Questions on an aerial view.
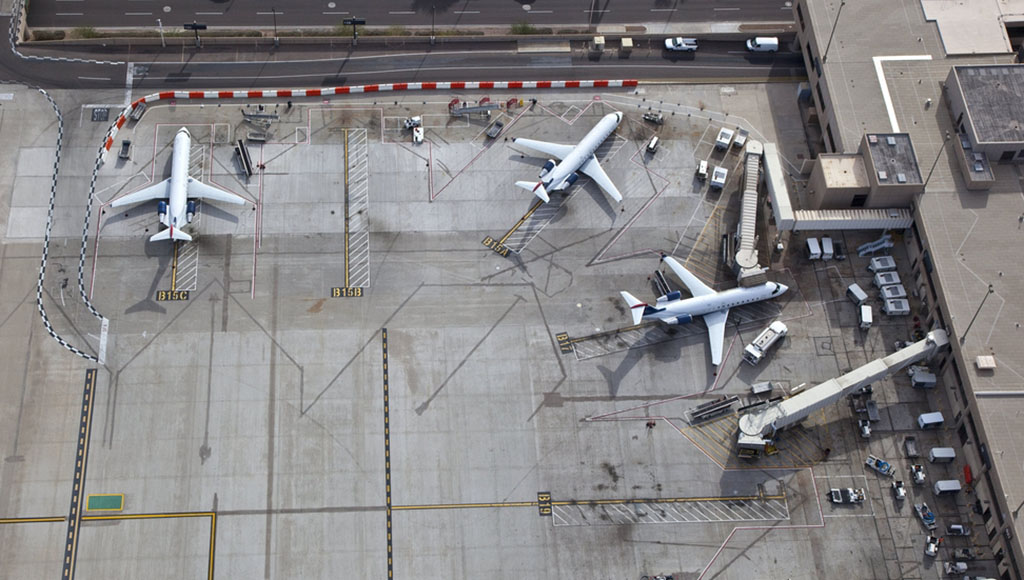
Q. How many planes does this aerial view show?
3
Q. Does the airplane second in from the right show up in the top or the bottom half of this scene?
top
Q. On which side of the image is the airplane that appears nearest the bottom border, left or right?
right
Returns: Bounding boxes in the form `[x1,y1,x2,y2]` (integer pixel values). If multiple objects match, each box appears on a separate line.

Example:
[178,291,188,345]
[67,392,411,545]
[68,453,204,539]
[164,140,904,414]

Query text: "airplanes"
[508,113,625,203]
[106,129,248,243]
[620,254,788,364]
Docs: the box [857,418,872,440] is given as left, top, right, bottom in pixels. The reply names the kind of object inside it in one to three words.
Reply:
work vehicle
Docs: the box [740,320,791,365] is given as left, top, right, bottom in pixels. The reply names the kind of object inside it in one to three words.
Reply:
truck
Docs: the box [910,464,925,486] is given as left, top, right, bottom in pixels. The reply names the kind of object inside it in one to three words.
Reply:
work vehicle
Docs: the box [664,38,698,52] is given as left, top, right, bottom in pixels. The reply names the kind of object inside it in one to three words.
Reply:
vehicle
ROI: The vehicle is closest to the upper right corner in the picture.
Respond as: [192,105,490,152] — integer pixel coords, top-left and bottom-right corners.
[746,37,780,53]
